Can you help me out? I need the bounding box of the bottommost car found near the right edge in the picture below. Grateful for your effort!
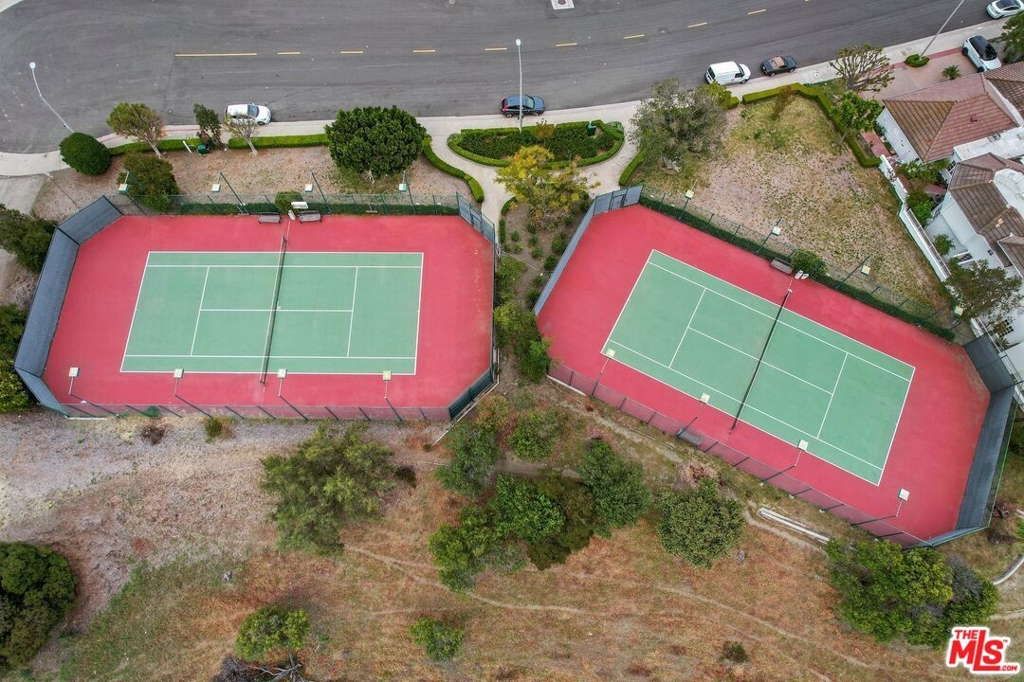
[961,29,1006,71]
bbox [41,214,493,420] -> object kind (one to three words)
tennis court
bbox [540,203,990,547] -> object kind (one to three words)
tennis court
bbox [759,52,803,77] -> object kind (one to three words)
car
